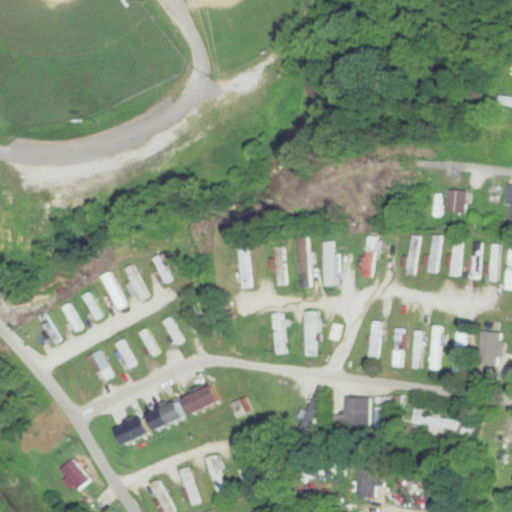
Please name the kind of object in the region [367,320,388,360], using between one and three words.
house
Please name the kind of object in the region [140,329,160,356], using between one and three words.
house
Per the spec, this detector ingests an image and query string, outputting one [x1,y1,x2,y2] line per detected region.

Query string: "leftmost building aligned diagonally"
[38,312,62,344]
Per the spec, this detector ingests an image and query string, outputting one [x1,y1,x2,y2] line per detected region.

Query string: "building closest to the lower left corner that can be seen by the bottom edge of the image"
[60,460,92,492]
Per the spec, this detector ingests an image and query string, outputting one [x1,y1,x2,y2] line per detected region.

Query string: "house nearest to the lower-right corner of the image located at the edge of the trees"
[412,409,476,438]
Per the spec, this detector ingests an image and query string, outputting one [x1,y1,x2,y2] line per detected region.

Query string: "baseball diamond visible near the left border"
[0,0,184,126]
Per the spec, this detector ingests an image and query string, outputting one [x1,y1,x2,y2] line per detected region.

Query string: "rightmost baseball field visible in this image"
[186,0,294,76]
